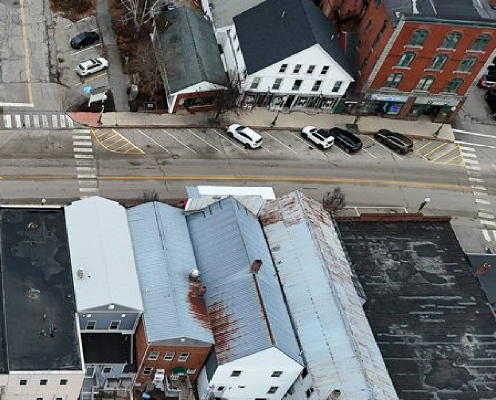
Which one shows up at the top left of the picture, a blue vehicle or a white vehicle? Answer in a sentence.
You can see a white vehicle at the top left of the picture.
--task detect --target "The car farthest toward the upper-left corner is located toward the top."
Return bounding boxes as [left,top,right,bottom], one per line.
[69,31,102,50]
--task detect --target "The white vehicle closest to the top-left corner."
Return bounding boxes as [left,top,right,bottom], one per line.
[74,56,112,77]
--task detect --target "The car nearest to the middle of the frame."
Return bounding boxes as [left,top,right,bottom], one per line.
[224,123,267,149]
